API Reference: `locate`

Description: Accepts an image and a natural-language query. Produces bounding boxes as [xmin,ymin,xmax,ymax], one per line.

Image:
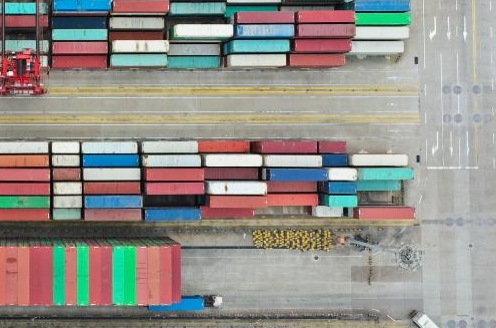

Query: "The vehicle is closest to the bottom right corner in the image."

[409,308,441,328]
